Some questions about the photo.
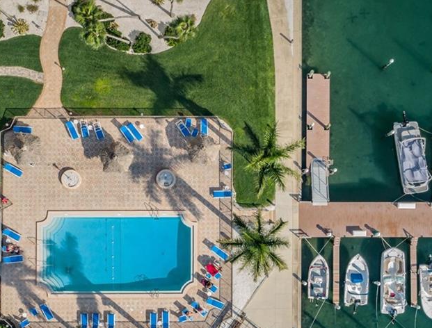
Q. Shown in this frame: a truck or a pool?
pool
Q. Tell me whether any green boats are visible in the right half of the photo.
No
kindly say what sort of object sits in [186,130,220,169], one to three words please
umbrella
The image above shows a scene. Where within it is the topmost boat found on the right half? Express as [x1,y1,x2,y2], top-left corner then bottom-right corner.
[394,113,432,193]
